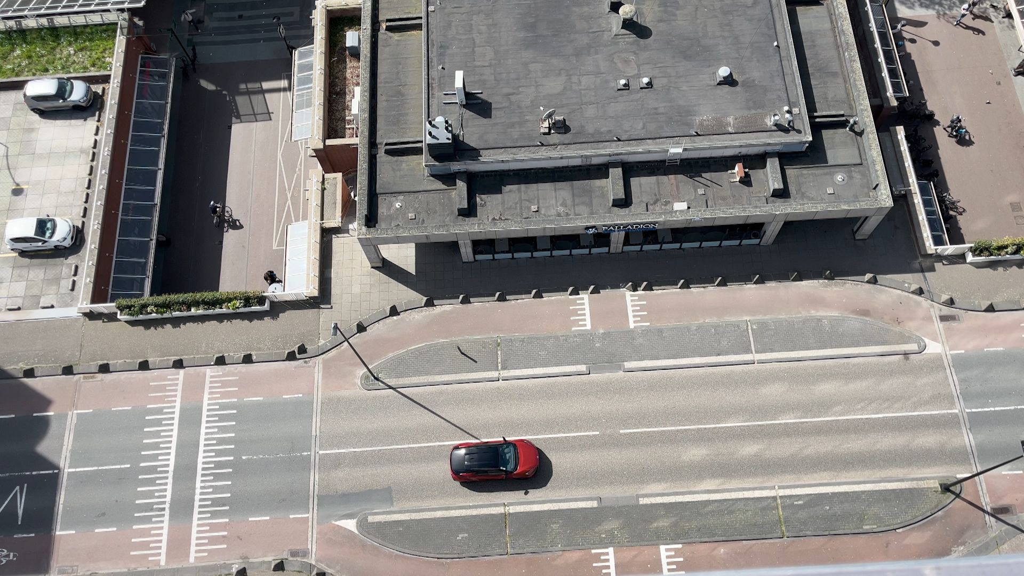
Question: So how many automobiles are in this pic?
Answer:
3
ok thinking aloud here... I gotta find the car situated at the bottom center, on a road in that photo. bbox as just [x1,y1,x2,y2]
[451,434,539,483]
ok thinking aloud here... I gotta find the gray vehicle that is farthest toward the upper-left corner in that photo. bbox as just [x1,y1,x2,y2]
[23,77,94,116]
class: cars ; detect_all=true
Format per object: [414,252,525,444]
[6,214,77,256]
[23,77,94,116]
[451,434,539,483]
